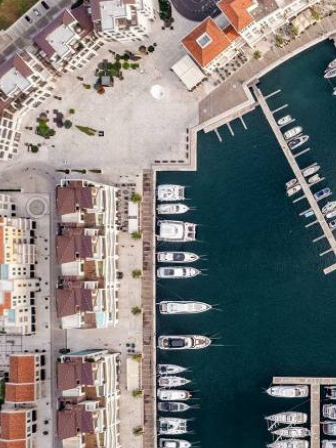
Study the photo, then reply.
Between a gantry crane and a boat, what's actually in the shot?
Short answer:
boat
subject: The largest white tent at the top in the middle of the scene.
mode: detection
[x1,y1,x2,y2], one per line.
[170,55,205,91]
